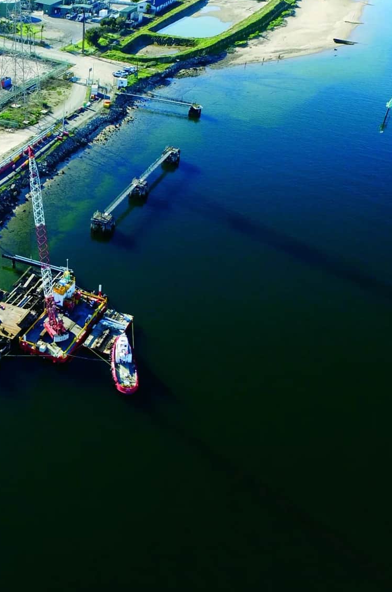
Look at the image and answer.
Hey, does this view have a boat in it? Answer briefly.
Yes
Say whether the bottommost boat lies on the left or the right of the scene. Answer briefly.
left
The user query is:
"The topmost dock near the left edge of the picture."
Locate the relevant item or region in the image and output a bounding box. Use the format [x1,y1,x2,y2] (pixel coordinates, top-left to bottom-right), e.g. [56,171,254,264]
[4,256,74,280]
